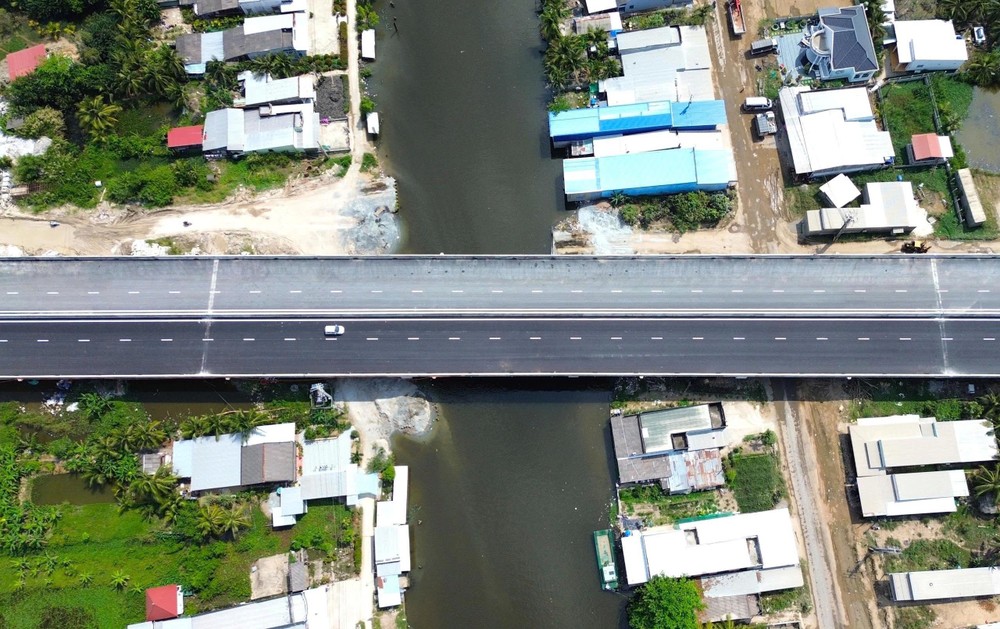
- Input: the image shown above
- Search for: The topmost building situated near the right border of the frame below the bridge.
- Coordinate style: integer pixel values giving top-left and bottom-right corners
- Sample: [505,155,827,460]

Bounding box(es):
[844,415,998,477]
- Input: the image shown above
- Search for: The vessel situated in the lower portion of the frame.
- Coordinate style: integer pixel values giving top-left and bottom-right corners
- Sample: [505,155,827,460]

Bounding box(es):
[594,530,621,590]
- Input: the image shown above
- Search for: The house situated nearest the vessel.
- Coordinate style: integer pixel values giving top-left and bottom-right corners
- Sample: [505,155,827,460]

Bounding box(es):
[620,508,799,584]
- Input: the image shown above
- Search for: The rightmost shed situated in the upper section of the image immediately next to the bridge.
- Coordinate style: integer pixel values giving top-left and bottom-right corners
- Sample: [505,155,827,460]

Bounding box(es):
[955,168,986,229]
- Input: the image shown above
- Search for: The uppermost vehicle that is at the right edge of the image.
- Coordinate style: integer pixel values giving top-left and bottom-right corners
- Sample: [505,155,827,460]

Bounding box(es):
[973,28,985,43]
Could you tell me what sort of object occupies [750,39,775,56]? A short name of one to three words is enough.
vehicle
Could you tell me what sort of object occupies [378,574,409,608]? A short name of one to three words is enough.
house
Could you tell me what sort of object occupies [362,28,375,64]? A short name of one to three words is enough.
shed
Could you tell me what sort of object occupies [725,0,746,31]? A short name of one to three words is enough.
truck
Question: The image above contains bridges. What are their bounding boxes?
[0,252,1000,381]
